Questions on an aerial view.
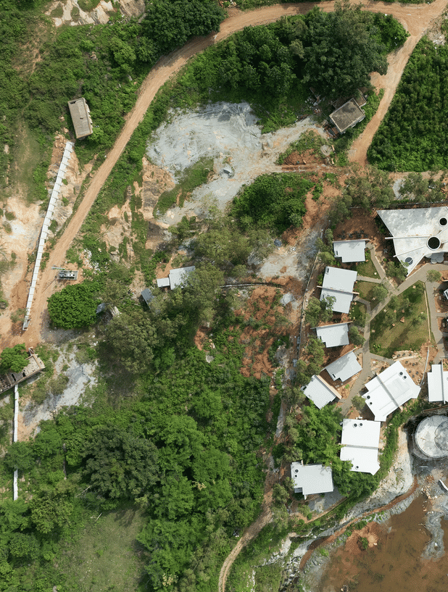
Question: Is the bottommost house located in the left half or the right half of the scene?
right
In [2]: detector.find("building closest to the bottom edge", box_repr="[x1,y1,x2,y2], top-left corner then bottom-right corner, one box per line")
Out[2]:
[291,457,334,499]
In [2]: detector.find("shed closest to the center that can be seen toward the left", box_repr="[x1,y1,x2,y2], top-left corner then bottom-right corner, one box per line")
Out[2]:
[157,266,196,290]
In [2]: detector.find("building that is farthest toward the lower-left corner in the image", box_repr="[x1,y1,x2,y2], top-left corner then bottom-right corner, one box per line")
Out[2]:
[0,346,51,393]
